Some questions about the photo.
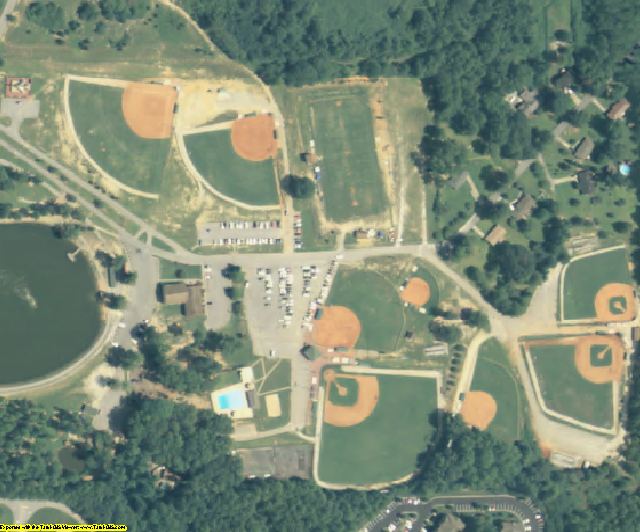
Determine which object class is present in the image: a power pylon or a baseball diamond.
baseball diamond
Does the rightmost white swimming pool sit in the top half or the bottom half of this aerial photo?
bottom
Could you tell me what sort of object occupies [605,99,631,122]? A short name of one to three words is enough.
house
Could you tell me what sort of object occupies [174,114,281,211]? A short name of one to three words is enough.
baseball field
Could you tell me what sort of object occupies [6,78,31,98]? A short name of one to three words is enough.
building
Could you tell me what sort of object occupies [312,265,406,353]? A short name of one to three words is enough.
baseball field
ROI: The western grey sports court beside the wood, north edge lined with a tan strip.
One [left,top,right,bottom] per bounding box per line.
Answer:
[242,449,273,478]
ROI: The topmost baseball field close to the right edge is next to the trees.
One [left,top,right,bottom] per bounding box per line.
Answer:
[561,245,636,322]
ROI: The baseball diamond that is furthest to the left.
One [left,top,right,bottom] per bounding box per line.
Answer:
[64,75,176,198]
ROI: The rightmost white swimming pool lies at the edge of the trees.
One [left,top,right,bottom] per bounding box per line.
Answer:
[211,383,254,418]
